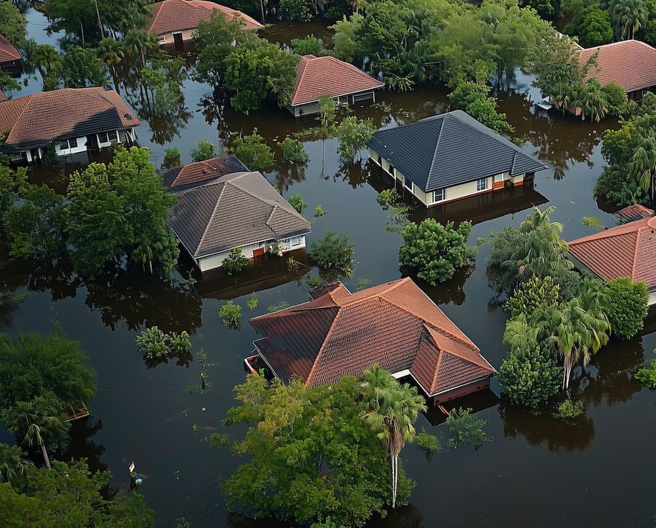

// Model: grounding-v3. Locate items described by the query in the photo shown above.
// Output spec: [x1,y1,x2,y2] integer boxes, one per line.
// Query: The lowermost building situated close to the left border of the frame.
[0,86,141,163]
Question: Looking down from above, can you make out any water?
Yes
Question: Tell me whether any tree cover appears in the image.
Yes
